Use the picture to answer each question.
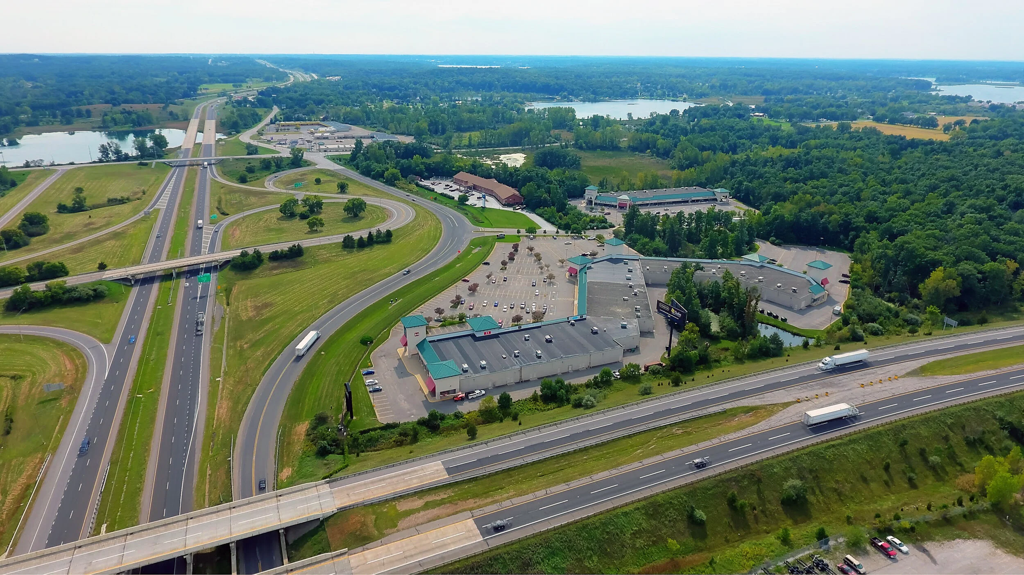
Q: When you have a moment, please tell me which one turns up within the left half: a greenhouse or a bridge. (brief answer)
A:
bridge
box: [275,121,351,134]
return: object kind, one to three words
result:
building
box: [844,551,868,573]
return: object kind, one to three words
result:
car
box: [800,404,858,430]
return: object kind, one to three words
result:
truck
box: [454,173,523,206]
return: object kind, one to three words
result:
building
